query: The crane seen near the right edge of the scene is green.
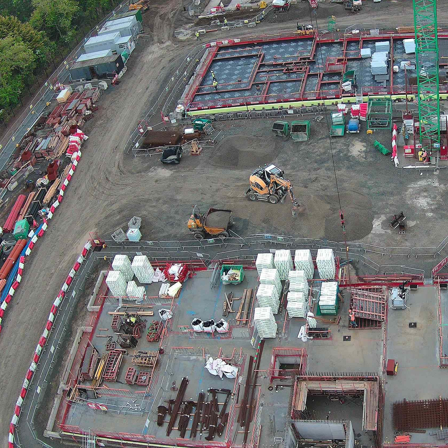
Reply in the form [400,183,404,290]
[412,0,440,152]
